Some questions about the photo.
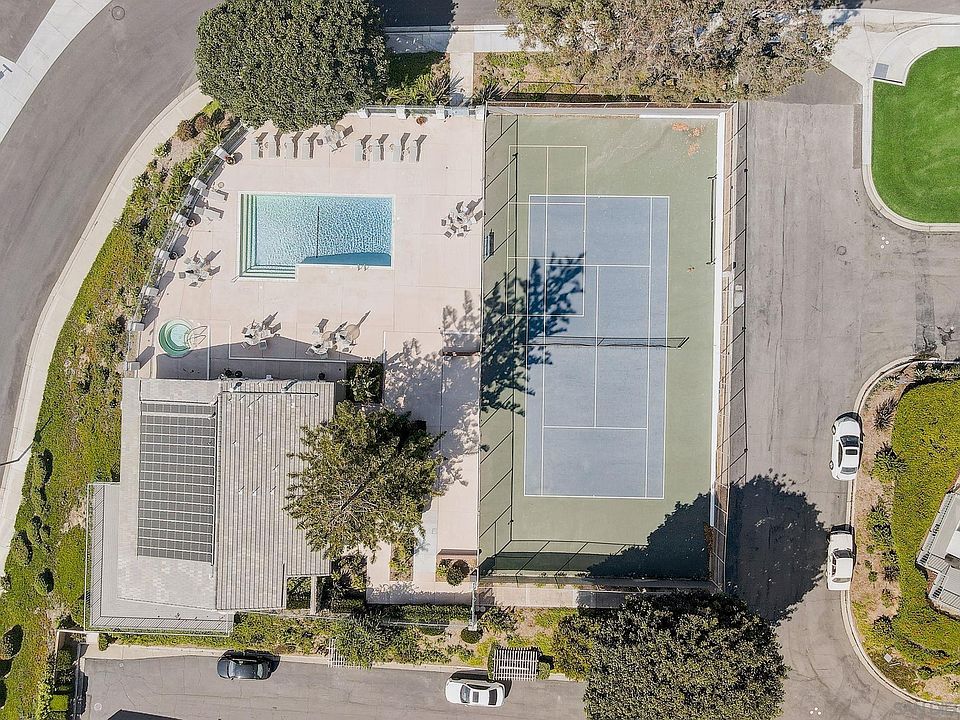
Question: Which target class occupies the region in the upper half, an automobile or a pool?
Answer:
pool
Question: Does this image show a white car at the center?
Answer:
No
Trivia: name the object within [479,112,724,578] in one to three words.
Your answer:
tennis court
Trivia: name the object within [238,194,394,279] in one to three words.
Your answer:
swimming pool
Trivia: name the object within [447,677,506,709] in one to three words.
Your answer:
car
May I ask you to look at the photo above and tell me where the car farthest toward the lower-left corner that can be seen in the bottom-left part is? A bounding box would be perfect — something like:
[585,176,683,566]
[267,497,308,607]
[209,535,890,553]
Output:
[219,652,274,683]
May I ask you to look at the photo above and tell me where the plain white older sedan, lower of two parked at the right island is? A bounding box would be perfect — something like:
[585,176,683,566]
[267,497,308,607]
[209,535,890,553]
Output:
[825,531,857,591]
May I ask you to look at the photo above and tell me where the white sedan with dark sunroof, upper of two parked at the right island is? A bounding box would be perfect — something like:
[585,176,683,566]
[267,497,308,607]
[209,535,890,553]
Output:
[830,415,863,477]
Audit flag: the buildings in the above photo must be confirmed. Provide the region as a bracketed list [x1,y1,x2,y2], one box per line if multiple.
[83,379,337,636]
[915,488,960,615]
